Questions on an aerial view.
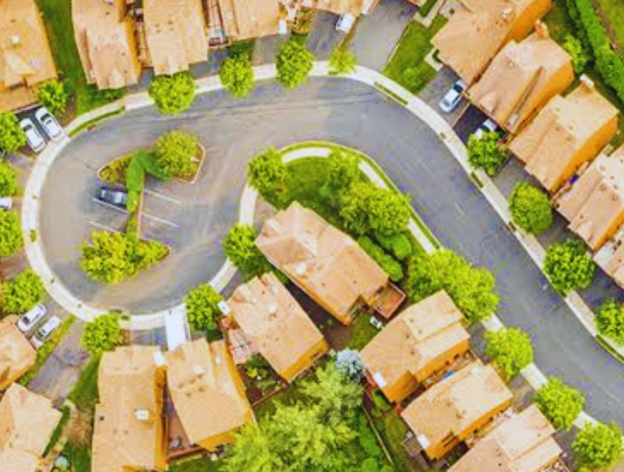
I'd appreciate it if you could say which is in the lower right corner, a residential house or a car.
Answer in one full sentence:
The one visible in the lower right corner is a residential house.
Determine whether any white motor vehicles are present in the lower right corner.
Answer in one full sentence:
No, looking in the lower right corner, there is no white motor vehicle.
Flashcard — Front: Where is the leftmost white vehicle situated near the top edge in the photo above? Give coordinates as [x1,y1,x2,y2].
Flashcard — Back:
[334,19,351,38]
